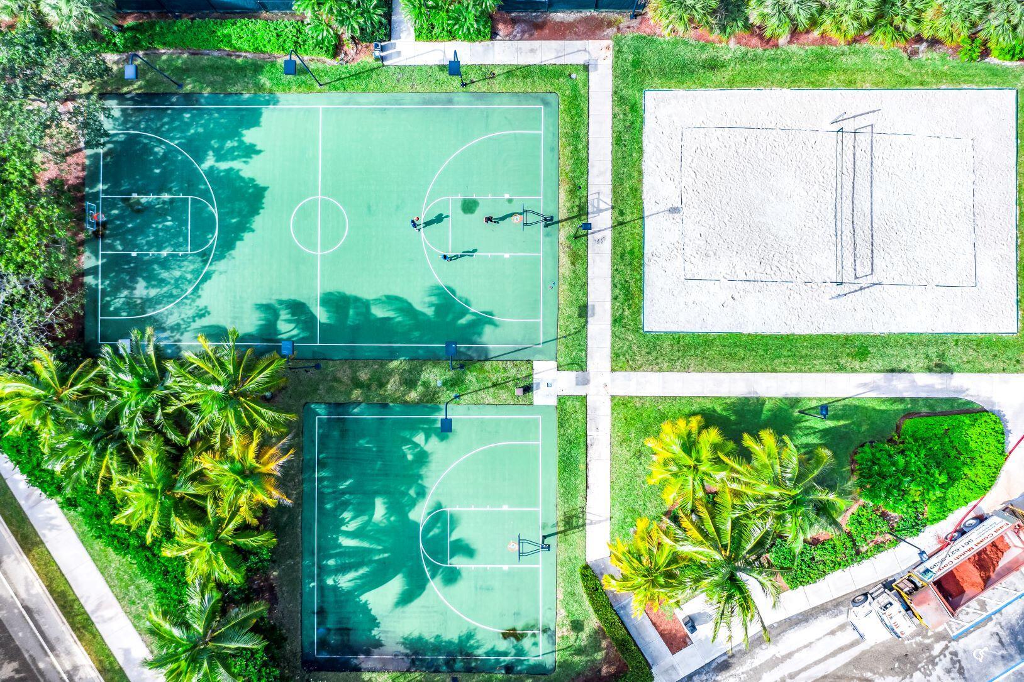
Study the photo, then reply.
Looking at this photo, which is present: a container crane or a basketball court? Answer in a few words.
basketball court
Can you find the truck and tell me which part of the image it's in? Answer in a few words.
bottom right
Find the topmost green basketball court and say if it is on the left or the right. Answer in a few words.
left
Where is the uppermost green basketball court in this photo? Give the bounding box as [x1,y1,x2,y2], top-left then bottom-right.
[84,92,560,364]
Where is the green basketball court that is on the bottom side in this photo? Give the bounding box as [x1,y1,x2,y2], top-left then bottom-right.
[301,401,558,679]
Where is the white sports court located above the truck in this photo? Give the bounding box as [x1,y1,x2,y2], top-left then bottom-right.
[642,88,1019,334]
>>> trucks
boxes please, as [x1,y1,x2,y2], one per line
[840,504,1024,644]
